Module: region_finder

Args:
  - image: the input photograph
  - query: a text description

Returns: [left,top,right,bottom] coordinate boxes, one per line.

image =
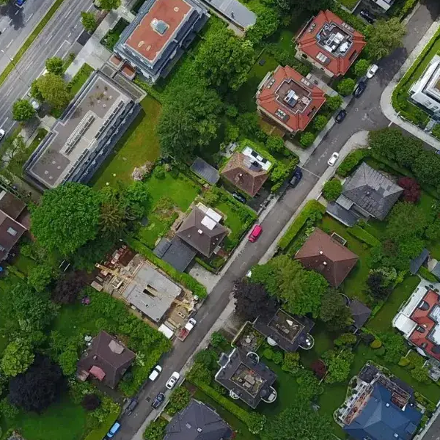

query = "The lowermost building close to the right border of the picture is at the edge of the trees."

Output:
[333,361,425,440]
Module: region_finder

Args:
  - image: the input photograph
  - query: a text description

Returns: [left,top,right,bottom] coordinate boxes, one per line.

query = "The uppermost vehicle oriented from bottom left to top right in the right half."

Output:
[366,63,379,79]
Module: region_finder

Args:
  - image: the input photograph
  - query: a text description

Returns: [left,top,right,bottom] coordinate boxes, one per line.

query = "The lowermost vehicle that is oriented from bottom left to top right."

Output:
[107,422,120,438]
